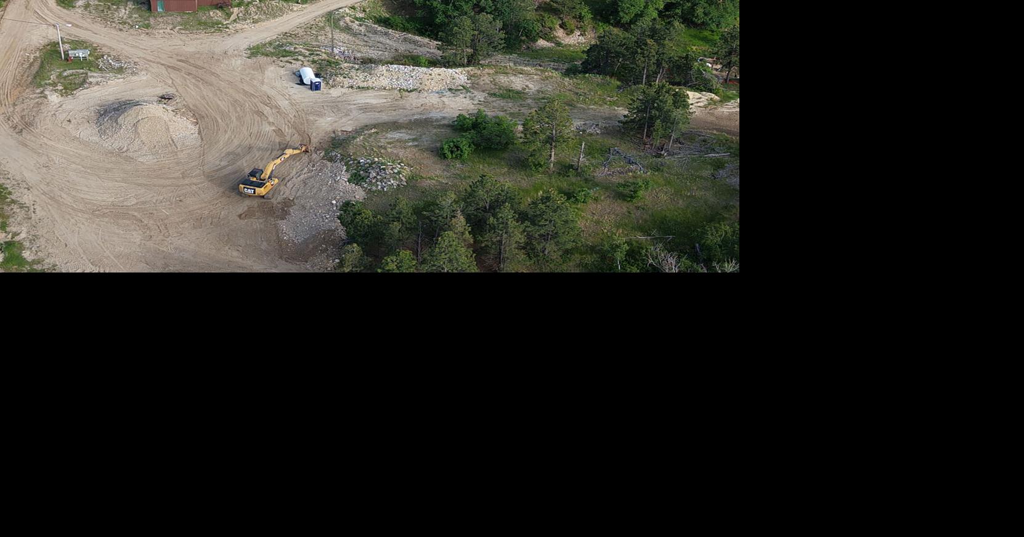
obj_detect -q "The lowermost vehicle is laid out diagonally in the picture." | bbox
[237,140,310,199]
